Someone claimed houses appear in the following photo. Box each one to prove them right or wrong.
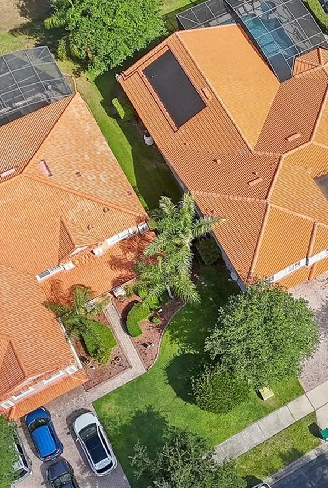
[0,91,171,422]
[116,21,328,292]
